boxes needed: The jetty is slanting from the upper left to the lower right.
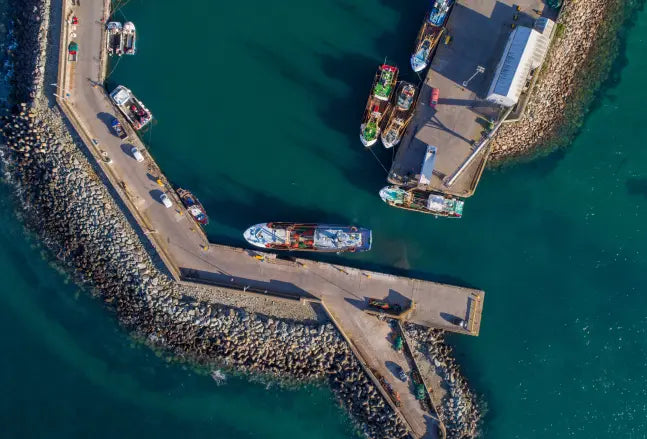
[46,0,485,439]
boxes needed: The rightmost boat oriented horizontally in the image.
[378,189,465,219]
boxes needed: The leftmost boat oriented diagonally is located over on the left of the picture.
[112,85,153,130]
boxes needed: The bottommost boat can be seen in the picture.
[243,221,373,255]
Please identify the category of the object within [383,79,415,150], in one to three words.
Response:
boat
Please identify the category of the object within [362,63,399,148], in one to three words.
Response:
boat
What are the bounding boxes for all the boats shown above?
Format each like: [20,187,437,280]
[243,221,373,255]
[112,85,153,130]
[378,189,465,219]
[123,21,137,57]
[383,79,415,150]
[362,63,399,148]
[411,0,456,75]
[175,186,209,225]
[109,21,123,57]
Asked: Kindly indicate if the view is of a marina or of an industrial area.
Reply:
marina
